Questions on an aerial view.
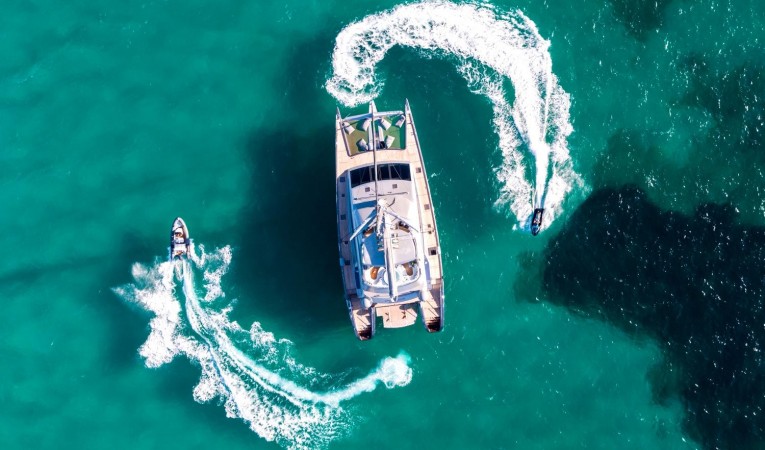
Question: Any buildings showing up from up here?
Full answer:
No, there's no building here.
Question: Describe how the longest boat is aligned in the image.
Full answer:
From this overhead view, the longest boat appears to run vertically.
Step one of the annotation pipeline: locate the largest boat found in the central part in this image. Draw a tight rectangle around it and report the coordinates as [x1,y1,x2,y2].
[335,96,443,340]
